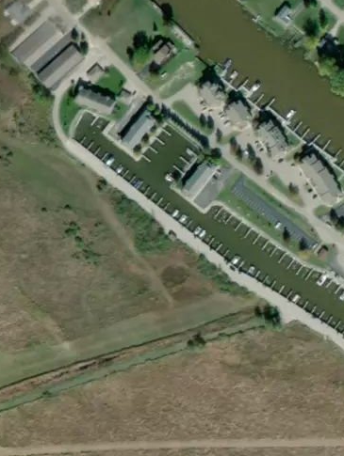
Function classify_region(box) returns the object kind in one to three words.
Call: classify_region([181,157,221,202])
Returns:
building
